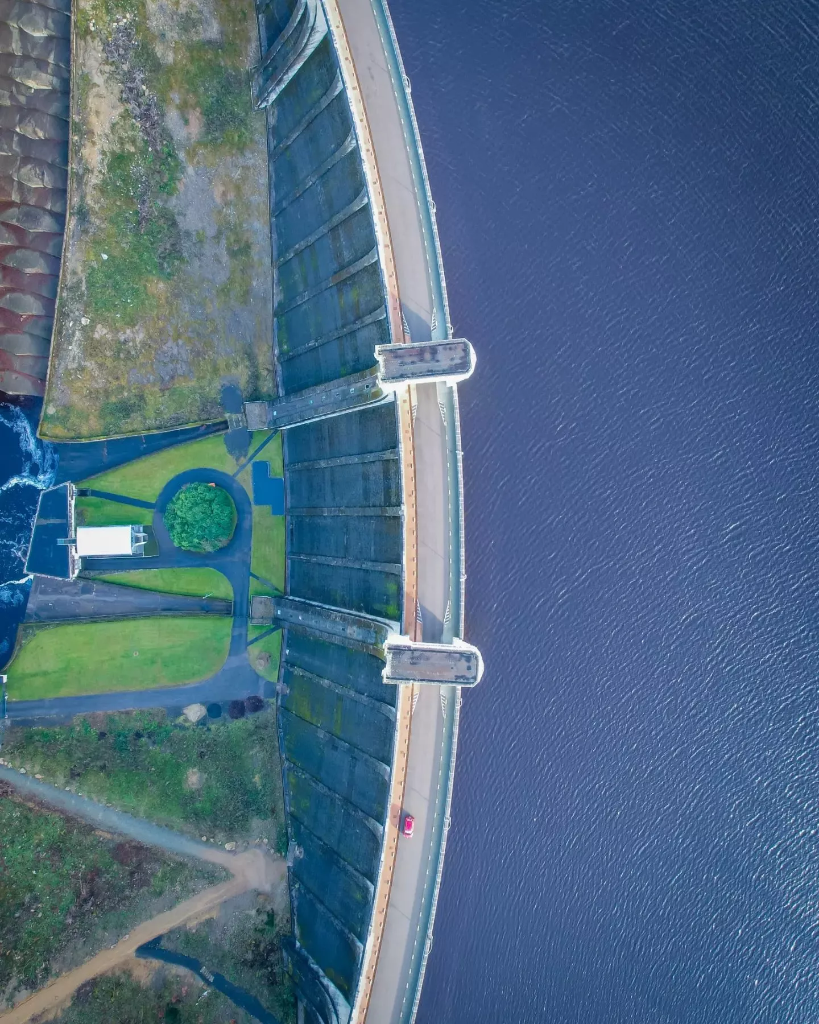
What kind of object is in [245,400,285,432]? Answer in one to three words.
building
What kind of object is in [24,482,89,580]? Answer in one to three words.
house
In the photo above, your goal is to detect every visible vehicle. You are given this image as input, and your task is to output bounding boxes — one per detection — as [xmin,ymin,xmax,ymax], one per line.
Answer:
[403,817,415,839]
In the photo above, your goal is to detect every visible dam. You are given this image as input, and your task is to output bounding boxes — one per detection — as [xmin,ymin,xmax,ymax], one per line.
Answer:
[253,0,465,1024]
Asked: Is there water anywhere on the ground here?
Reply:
Yes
